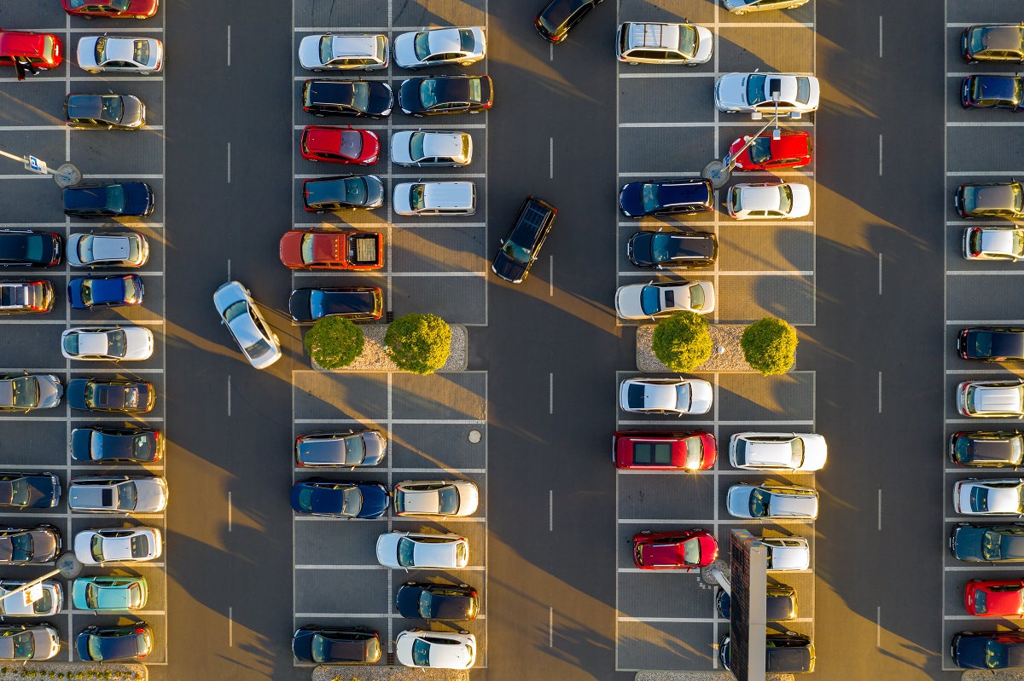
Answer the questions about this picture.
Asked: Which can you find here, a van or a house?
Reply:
van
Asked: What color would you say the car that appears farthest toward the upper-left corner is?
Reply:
red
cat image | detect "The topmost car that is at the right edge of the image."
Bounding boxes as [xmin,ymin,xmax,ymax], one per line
[959,24,1024,66]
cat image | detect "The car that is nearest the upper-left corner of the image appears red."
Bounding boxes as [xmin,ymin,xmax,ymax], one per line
[0,31,65,84]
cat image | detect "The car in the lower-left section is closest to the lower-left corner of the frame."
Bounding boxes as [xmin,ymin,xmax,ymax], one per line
[0,614,62,661]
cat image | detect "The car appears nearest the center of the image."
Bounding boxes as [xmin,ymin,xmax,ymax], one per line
[494,197,556,281]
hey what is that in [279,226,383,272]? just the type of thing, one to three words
truck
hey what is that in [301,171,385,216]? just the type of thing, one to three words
vehicle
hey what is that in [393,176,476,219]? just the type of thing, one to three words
van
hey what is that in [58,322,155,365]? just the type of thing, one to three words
car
